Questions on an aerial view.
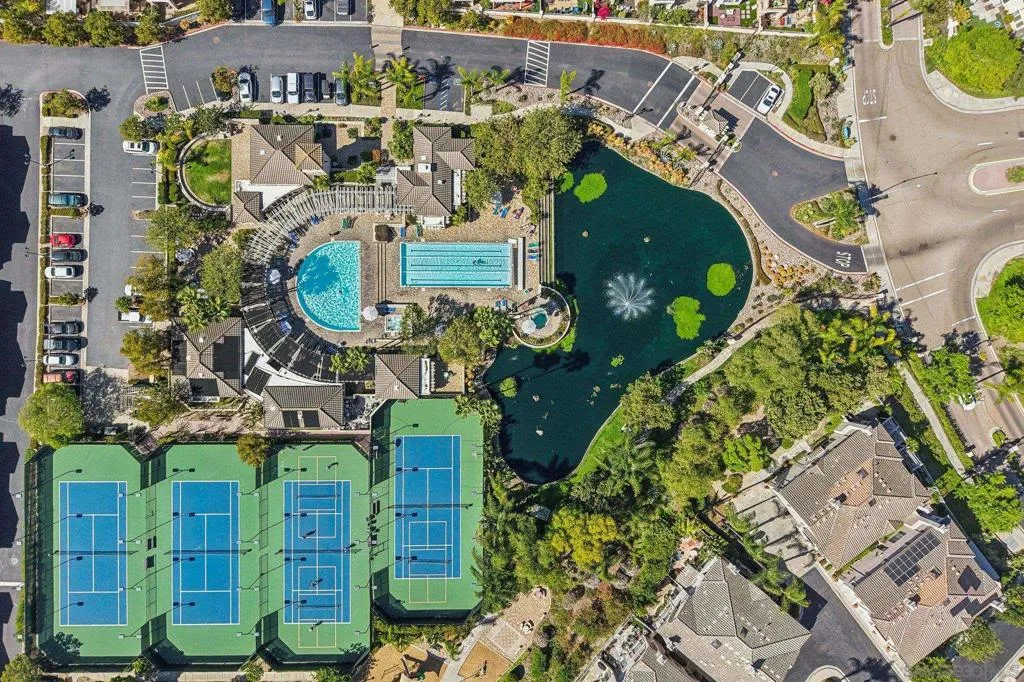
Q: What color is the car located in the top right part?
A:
white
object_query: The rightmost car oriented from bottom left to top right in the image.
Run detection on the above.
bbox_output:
[757,86,780,115]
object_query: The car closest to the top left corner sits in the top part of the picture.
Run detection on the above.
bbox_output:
[52,126,83,140]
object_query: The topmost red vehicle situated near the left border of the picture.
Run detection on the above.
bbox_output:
[50,234,81,247]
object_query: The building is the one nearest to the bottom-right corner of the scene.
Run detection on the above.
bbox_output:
[841,510,1002,663]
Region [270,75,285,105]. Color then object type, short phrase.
white car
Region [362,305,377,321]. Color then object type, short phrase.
white umbrella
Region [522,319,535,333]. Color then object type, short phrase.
white umbrella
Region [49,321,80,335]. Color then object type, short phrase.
gray car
